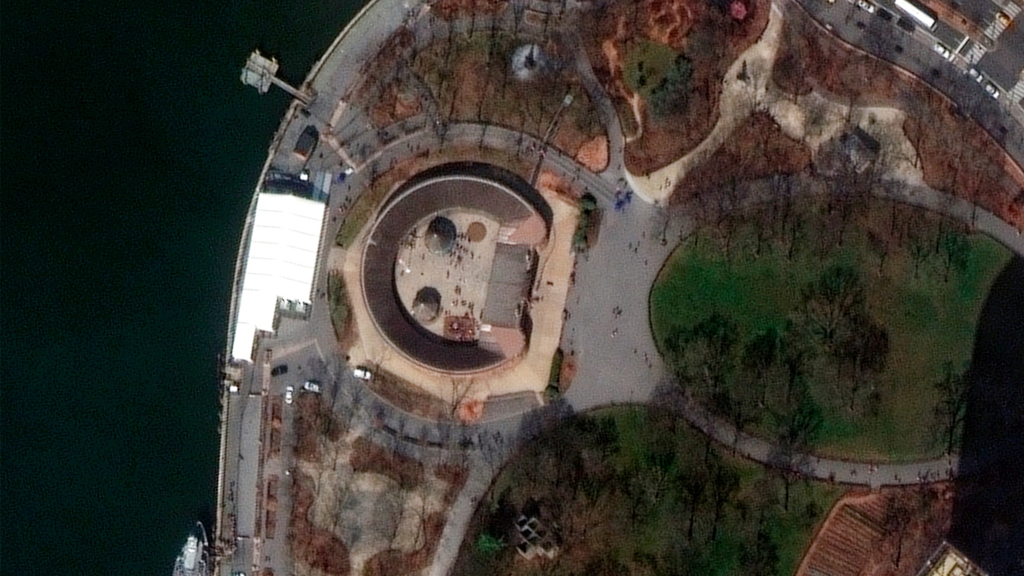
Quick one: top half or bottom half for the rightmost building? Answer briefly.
bottom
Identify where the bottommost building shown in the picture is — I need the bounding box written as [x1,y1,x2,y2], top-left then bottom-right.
[914,459,1024,576]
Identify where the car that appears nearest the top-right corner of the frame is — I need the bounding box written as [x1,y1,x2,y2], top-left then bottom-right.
[994,13,1011,29]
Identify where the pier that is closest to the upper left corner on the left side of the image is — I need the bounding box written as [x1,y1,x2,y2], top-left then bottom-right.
[238,50,279,100]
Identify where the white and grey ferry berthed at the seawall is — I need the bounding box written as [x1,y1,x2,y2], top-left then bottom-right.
[173,522,215,576]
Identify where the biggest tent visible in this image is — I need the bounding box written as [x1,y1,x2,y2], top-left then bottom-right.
[233,188,332,363]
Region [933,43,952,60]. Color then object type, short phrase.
white car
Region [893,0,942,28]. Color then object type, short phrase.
white bus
